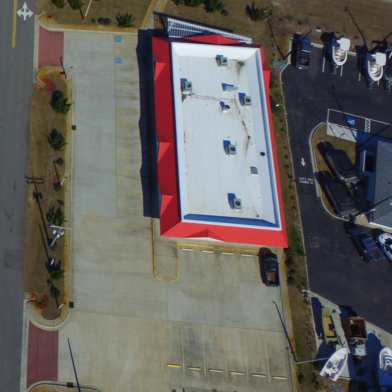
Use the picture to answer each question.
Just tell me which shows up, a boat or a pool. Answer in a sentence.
It is a boat that can be seen here.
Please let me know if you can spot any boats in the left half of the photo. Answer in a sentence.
No, I can find no boat in the left half of the photo.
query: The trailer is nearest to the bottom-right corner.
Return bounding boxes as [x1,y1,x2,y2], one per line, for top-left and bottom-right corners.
[344,315,380,347]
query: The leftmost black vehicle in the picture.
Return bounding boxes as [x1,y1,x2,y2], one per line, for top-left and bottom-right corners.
[262,251,281,289]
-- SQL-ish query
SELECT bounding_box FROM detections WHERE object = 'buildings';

[151,32,288,247]
[358,140,392,237]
